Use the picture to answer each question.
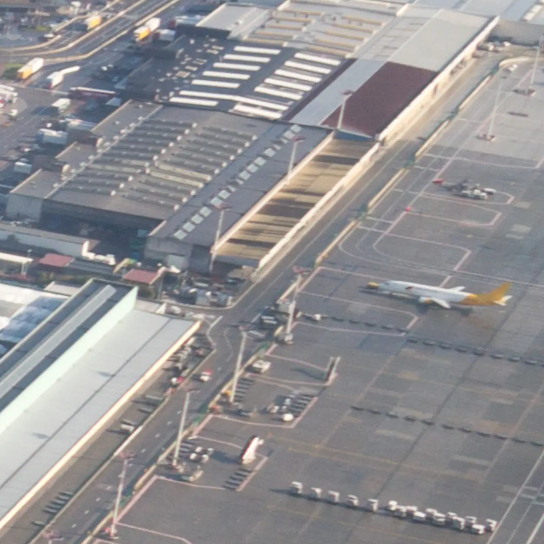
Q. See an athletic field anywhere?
No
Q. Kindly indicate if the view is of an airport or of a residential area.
airport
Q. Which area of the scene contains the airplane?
right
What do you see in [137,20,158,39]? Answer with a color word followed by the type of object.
white vehicle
